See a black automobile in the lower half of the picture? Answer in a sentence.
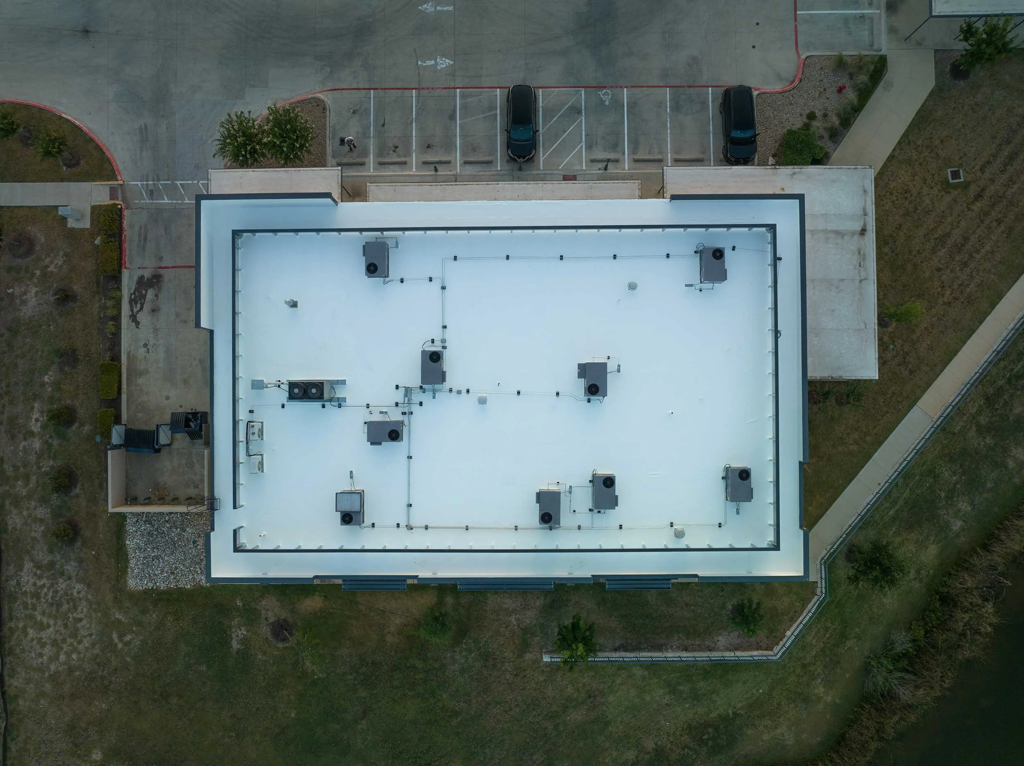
No, the scene shows no black automobile in the lower half of the picture.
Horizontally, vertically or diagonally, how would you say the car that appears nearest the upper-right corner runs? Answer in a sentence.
What the image shows is the car that appears nearest the upper-right corner lying vertically.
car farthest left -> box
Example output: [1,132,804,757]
[503,83,540,162]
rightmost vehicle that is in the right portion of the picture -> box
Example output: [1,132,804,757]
[720,85,761,163]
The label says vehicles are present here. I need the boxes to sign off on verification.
[720,85,761,163]
[503,83,540,162]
